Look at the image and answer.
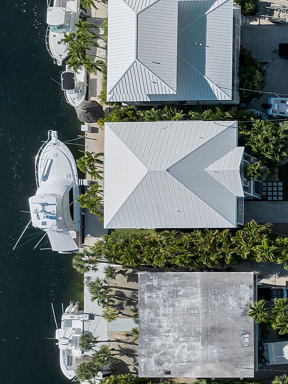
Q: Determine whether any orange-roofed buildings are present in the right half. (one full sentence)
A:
No, no orange-roofed building is visible in the right half.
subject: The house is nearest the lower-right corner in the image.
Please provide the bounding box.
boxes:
[138,272,265,378]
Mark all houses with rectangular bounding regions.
[138,272,265,378]
[104,120,271,228]
[107,0,249,109]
